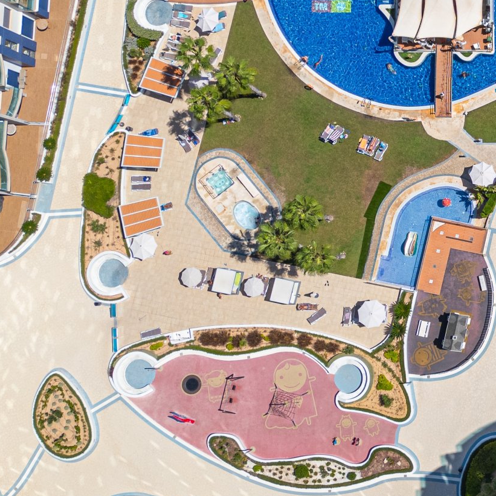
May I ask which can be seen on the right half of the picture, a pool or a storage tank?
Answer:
pool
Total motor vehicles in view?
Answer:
zero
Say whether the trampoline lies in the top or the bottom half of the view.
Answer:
bottom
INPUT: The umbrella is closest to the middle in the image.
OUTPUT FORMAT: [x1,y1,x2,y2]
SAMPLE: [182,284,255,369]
[243,275,266,297]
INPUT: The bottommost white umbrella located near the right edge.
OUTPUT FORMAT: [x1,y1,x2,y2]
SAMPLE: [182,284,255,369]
[469,161,496,188]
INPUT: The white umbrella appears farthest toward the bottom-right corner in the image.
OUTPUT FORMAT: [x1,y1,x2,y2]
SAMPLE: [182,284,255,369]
[358,300,386,328]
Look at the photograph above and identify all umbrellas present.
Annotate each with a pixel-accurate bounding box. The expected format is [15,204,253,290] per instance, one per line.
[358,300,386,328]
[128,232,159,260]
[469,161,496,188]
[181,267,205,288]
[197,10,219,31]
[243,275,266,297]
[189,72,211,89]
